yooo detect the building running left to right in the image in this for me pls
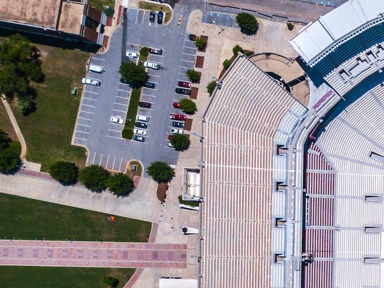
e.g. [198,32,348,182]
[0,0,114,48]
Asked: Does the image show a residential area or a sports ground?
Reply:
sports ground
